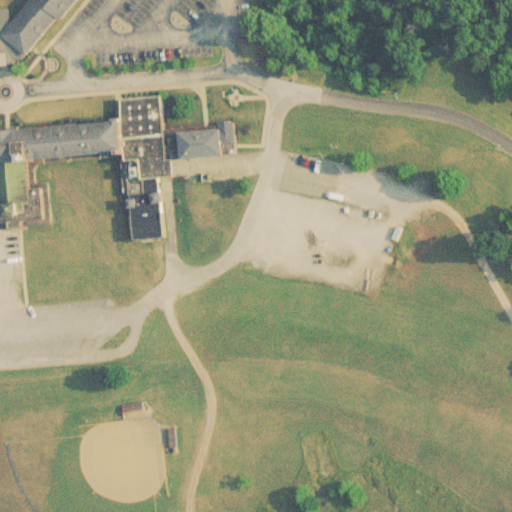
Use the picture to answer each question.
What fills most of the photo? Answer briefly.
grass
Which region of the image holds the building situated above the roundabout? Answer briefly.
top left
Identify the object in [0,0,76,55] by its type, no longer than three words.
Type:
building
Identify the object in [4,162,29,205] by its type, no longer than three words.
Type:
building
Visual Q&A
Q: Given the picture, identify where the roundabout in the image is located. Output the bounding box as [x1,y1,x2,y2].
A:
[0,76,24,113]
